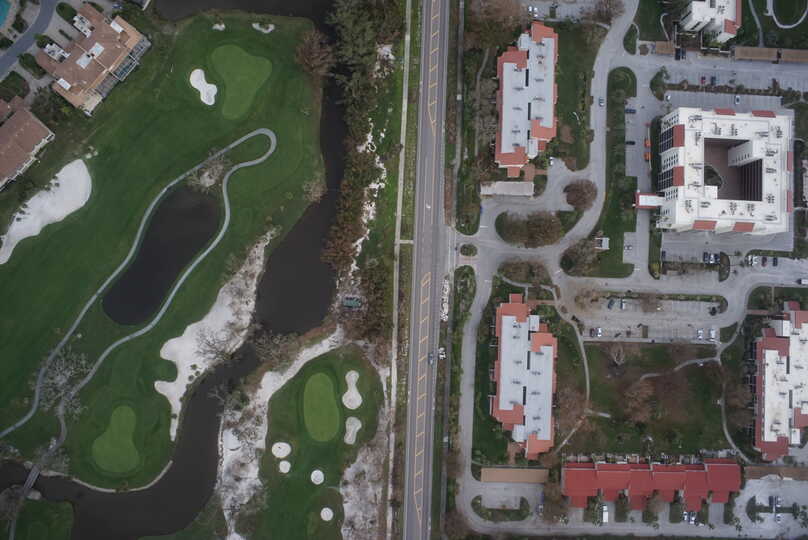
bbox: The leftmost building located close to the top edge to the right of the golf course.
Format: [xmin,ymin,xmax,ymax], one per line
[488,21,559,179]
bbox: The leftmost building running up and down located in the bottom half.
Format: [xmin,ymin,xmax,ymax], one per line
[487,294,558,457]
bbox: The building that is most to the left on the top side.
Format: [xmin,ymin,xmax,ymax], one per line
[0,96,58,189]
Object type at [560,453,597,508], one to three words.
house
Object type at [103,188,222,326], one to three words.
pond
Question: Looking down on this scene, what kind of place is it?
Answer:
golf course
